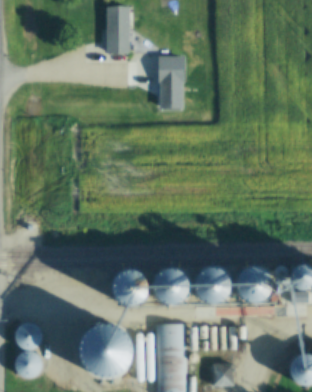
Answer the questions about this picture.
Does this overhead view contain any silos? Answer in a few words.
Yes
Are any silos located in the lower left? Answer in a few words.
Yes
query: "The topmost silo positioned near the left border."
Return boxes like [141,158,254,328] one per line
[14,322,47,350]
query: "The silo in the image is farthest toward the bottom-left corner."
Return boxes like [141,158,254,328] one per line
[15,351,48,379]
